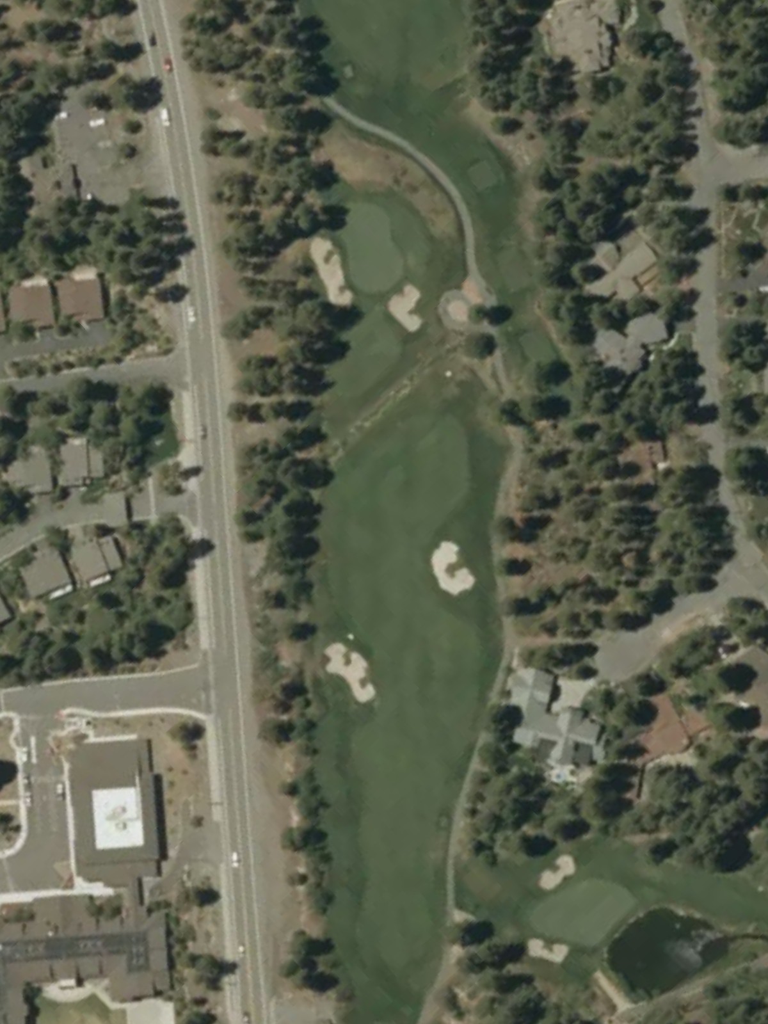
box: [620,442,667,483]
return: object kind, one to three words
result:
house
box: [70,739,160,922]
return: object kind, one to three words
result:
building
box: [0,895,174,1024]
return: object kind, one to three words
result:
building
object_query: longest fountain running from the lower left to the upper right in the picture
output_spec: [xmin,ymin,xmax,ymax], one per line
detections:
[678,927,722,970]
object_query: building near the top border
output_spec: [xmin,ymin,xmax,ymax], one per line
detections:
[547,0,619,74]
